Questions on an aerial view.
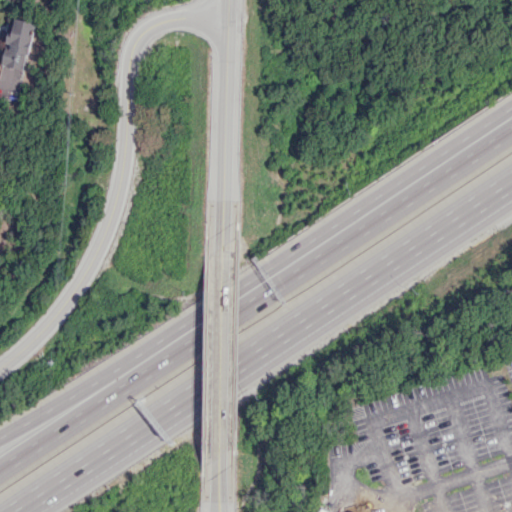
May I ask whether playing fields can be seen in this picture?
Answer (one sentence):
No, this view has no playing field in it.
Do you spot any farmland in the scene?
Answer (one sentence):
No, farmland can't be seen anywhere here.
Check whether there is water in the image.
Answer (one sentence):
No, there's no water in this view.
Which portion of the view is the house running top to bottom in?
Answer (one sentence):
Look in the top left portion of the view to spot the house running top to bottom.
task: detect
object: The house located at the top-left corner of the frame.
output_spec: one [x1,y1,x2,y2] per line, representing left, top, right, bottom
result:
[0,19,36,94]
